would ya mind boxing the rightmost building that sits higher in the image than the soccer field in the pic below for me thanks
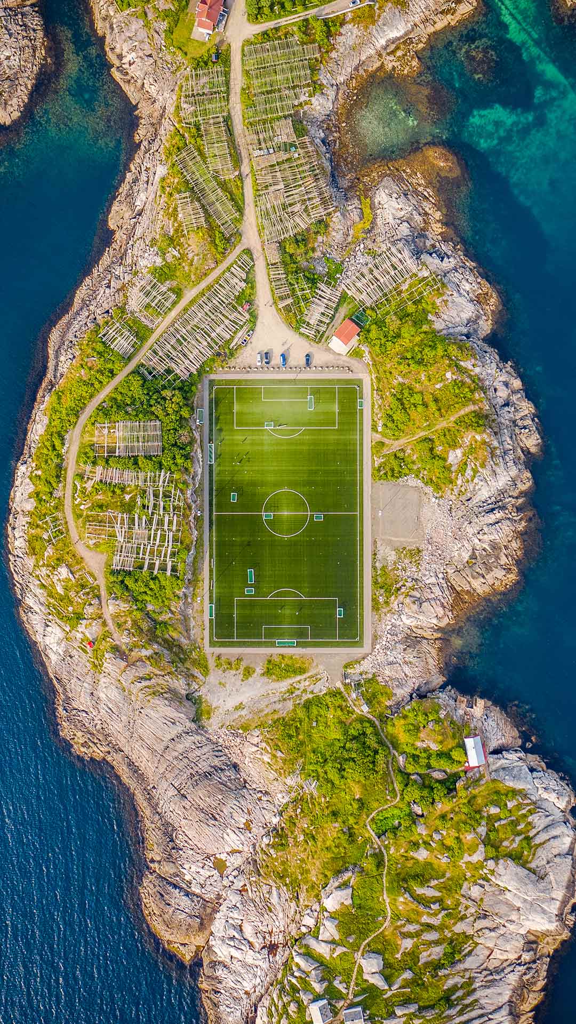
[328,318,361,355]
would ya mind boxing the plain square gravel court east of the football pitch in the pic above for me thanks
[372,482,423,547]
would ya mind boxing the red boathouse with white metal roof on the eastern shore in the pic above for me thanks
[465,735,487,771]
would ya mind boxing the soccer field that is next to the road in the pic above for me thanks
[203,372,371,653]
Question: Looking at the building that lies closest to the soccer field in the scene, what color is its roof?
red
